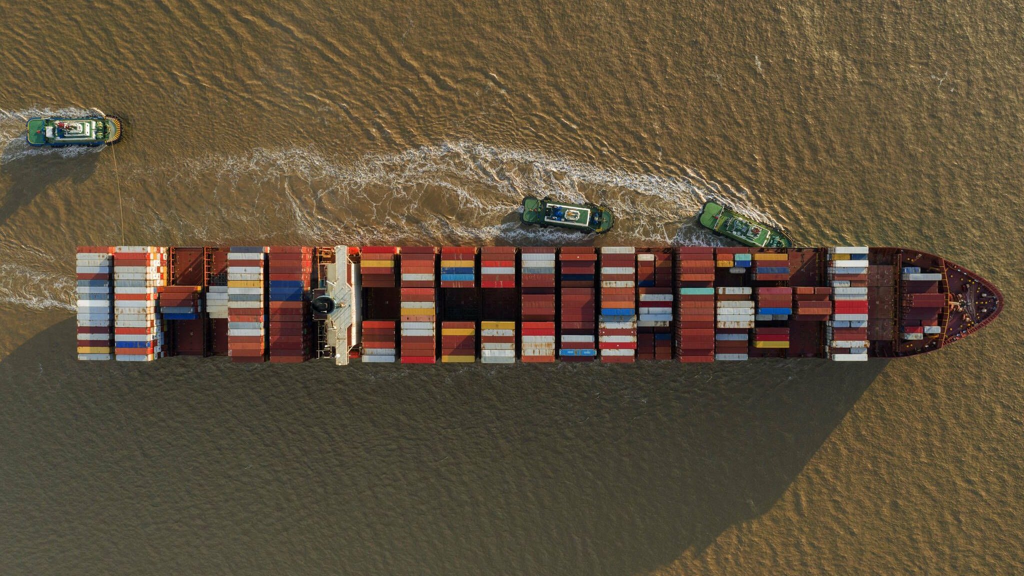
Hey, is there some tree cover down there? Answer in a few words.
No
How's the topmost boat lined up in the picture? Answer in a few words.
horizontally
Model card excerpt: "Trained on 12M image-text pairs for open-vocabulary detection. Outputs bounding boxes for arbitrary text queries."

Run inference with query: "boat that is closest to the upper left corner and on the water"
[27,116,123,147]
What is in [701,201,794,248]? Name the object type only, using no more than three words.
boat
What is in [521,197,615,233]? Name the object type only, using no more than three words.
boat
